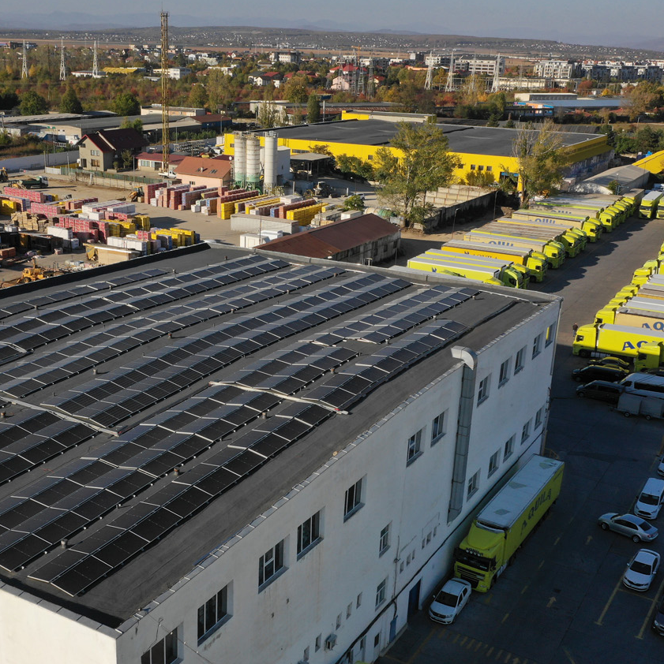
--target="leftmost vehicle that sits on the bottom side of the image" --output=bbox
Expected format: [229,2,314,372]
[427,581,473,627]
